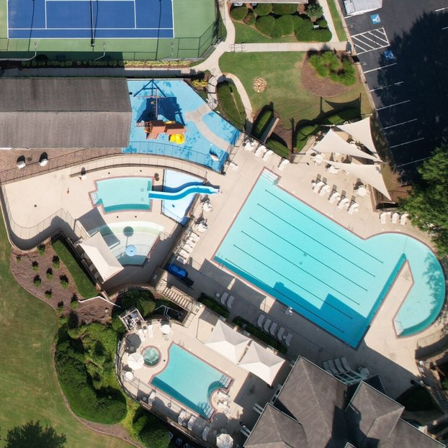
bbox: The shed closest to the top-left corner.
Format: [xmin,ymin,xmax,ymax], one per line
[0,78,133,147]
